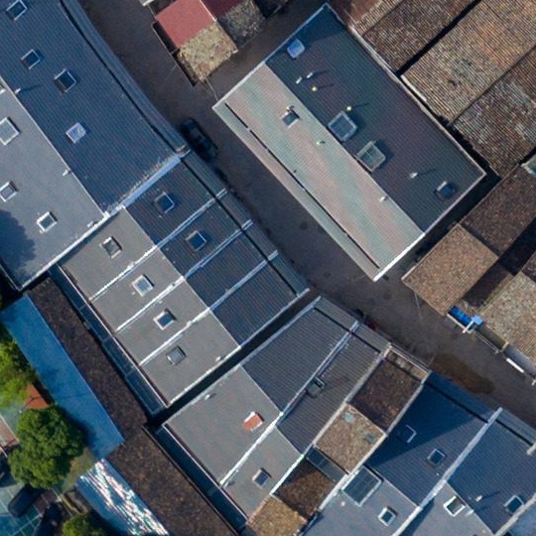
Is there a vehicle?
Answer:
Yes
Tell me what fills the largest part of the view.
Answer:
buildings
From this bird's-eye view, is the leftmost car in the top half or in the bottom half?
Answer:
bottom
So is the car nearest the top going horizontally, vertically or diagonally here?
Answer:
diagonally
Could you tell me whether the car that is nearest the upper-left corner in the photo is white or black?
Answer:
black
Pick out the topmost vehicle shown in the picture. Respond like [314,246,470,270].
[180,116,220,161]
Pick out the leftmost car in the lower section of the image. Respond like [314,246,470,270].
[5,480,44,521]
